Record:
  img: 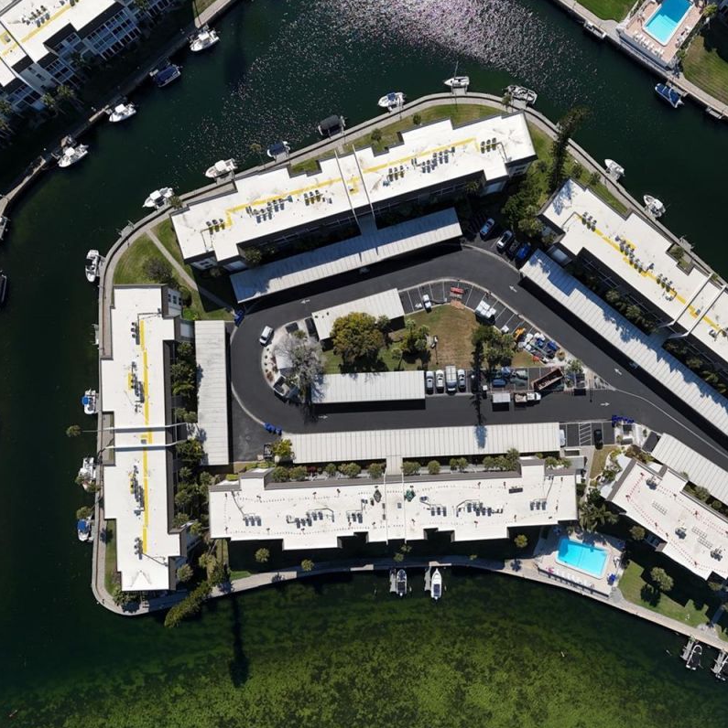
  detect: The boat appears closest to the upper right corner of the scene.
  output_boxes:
[657,85,682,108]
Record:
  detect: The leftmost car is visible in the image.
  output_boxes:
[260,327,274,345]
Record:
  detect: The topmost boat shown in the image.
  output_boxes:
[192,31,221,50]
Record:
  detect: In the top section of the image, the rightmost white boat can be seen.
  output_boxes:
[642,197,666,219]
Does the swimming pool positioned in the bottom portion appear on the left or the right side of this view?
right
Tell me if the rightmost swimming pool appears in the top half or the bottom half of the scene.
top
